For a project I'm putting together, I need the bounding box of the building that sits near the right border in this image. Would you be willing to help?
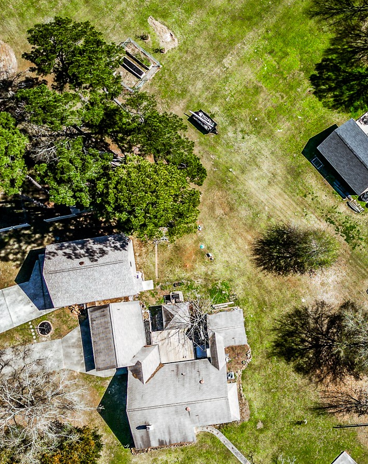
[317,119,368,195]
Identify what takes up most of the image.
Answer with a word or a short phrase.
grass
